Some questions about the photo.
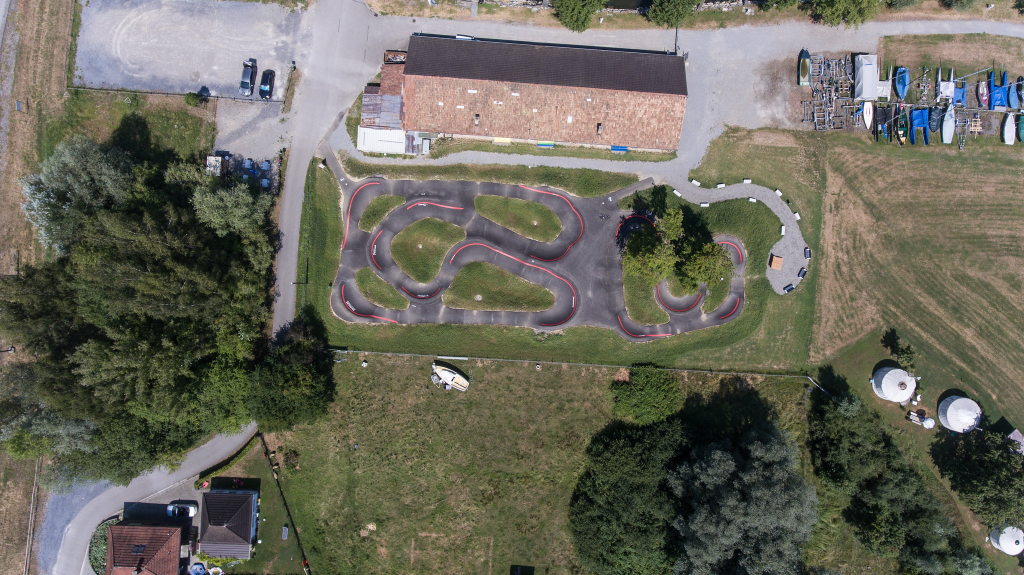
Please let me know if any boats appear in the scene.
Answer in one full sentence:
Yes, a boat is visible in the scene.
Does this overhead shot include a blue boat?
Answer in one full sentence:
Yes, a blue boat appears in the view.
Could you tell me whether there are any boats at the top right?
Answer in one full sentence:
Yes, at the top right there is a boat.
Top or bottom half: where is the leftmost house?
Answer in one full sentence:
The bottom half of the photo is where the leftmost house is.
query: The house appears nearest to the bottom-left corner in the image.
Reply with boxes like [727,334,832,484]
[106,518,193,575]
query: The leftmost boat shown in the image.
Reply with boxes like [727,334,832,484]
[432,364,470,394]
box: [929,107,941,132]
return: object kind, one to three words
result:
boat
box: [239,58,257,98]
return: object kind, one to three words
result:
car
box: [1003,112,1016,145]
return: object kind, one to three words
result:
boat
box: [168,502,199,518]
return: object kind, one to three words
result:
car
